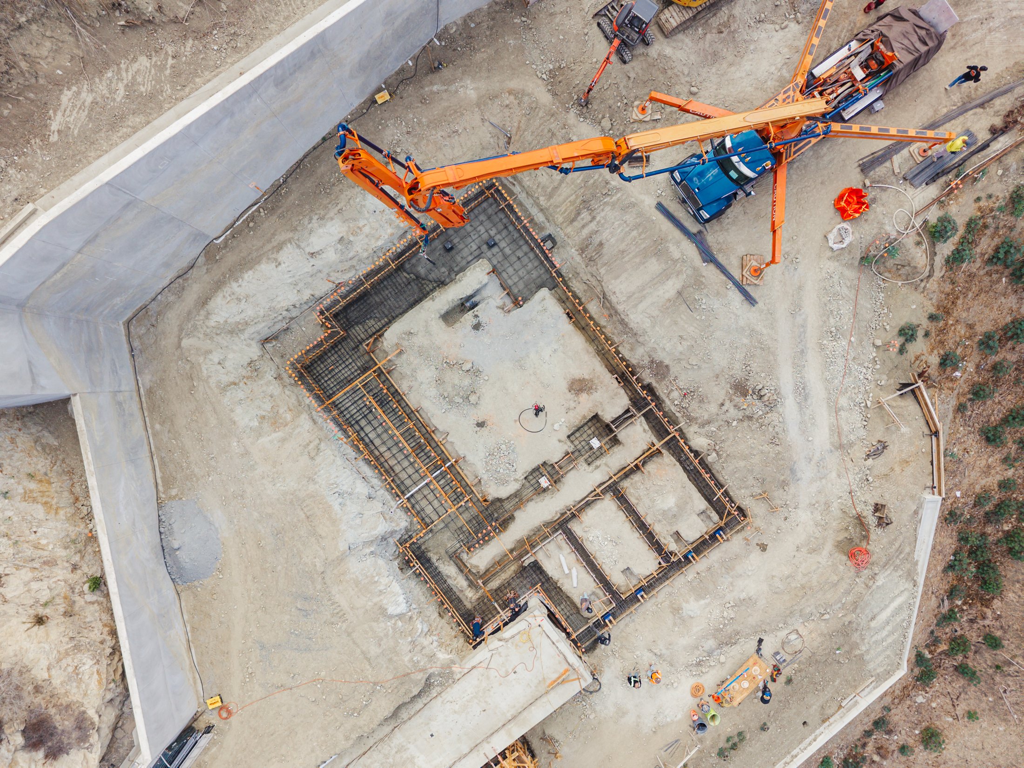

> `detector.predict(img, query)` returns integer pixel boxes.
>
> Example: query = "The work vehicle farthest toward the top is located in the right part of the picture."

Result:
[653,0,735,42]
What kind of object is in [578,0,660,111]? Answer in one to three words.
work vehicle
